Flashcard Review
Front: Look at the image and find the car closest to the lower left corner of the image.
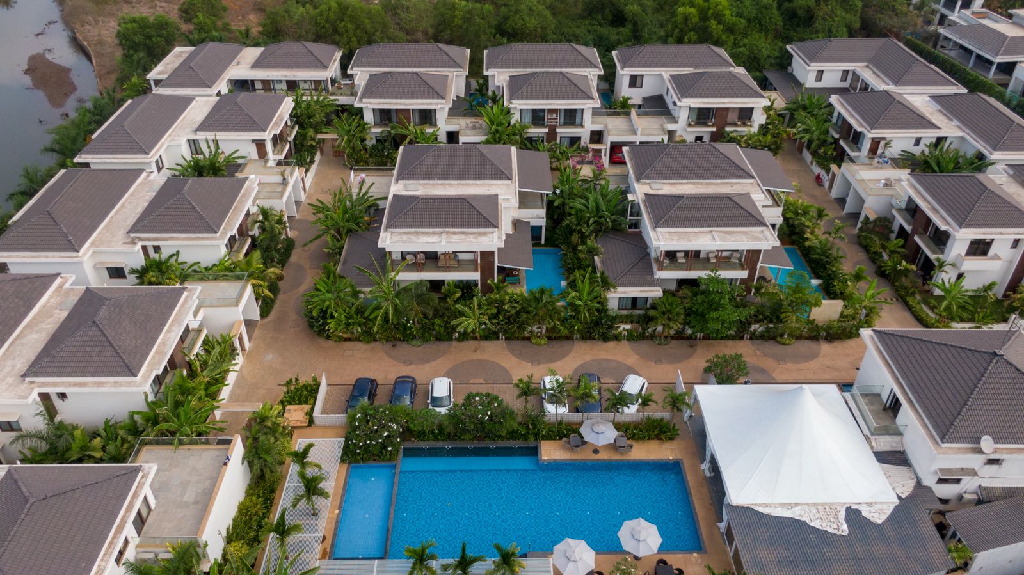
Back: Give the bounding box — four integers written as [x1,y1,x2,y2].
[350,373,384,416]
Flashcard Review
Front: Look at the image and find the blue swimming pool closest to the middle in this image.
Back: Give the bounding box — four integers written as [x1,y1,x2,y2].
[523,246,571,310]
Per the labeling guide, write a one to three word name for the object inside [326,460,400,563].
swimming pool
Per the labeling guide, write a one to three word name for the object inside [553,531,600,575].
umbrella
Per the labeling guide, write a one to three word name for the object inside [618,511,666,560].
umbrella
